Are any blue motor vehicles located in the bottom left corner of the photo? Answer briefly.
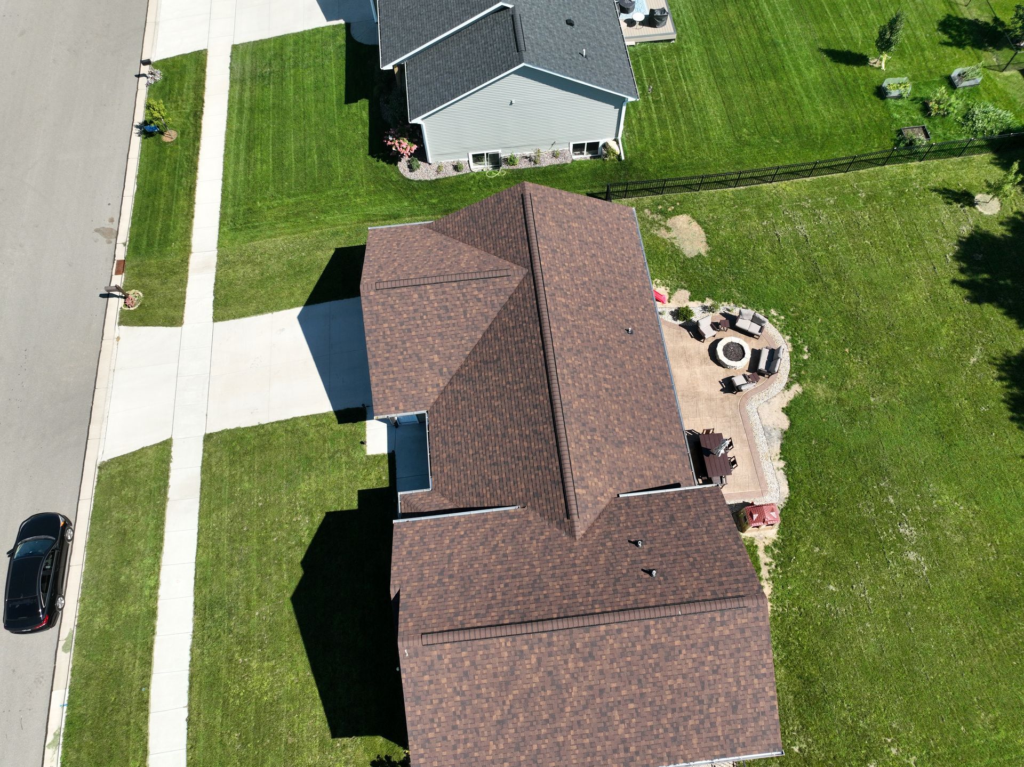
No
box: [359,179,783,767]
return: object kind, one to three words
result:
house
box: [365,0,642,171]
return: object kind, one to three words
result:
house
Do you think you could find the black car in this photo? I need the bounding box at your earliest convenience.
[3,512,76,632]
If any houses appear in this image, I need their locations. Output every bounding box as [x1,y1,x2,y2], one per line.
[359,179,783,767]
[365,0,642,171]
